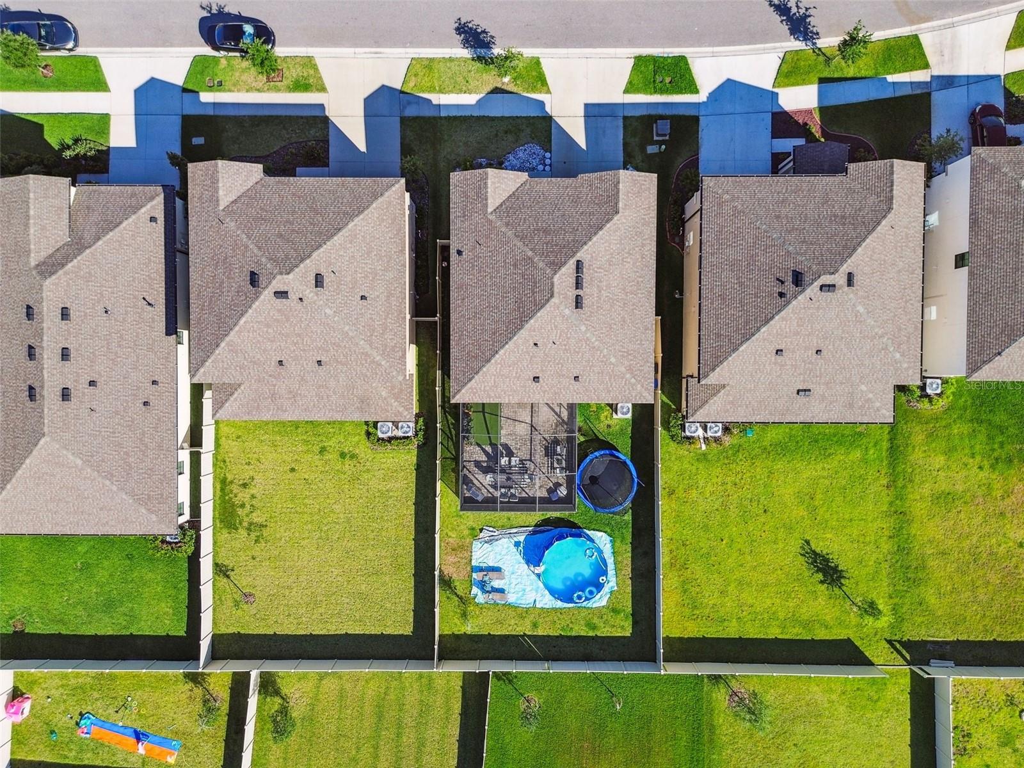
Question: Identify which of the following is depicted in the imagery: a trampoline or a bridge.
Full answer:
There is a trampoline in the scene.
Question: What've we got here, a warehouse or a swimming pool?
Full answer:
The one in the frame is a swimming pool.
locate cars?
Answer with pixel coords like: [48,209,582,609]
[0,16,78,55]
[207,18,276,55]
[968,104,1007,148]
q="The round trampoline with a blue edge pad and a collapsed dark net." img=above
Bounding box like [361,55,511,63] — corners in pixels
[577,450,645,511]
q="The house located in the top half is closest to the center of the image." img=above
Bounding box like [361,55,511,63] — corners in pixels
[450,168,658,404]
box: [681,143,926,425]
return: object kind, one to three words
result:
house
